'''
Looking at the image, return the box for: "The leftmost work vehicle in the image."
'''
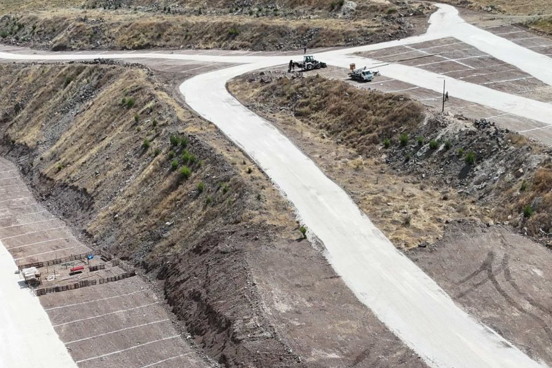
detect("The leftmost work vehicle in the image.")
[294,53,335,72]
